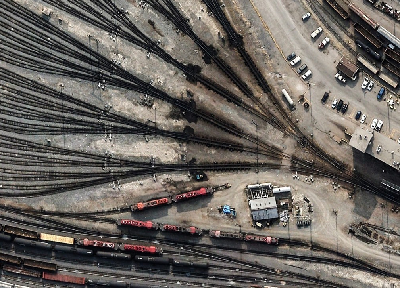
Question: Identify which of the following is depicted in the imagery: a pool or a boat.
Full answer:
Of the two, only a boat appears.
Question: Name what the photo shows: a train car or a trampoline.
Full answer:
The image shows a train car.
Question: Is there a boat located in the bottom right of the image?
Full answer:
No, no boat is visible in the bottom right of the image.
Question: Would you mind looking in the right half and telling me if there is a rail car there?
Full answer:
Yes, looking in the right half, one can make out a rail car.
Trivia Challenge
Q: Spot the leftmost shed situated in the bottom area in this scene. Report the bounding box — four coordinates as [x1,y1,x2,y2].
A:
[251,197,279,221]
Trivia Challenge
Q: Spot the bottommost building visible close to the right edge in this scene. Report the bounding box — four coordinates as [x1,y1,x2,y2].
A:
[338,116,400,177]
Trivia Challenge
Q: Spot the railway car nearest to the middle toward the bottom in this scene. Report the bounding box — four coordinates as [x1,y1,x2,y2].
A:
[173,186,215,202]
